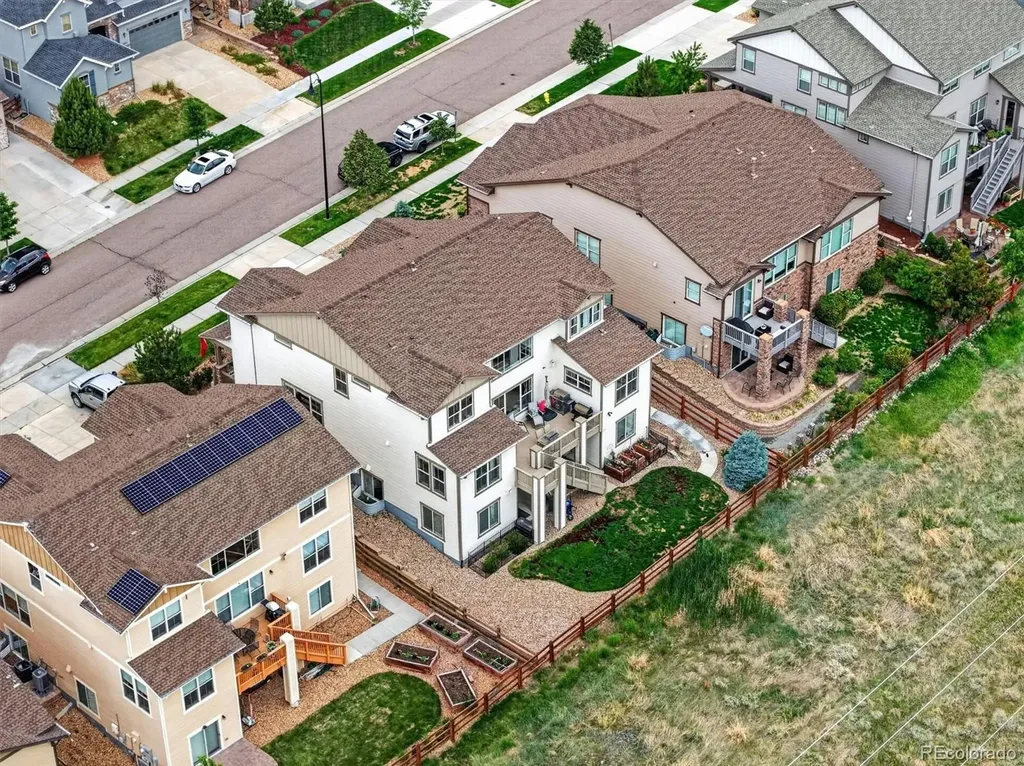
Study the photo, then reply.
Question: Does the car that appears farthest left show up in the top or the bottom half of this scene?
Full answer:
The car that appears farthest left is in the top half of the image.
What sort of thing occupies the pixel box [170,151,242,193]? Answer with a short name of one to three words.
car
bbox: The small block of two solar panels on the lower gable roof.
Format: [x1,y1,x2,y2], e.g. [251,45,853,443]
[106,566,159,614]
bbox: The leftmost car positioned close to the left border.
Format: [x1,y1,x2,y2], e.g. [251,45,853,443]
[0,240,56,291]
